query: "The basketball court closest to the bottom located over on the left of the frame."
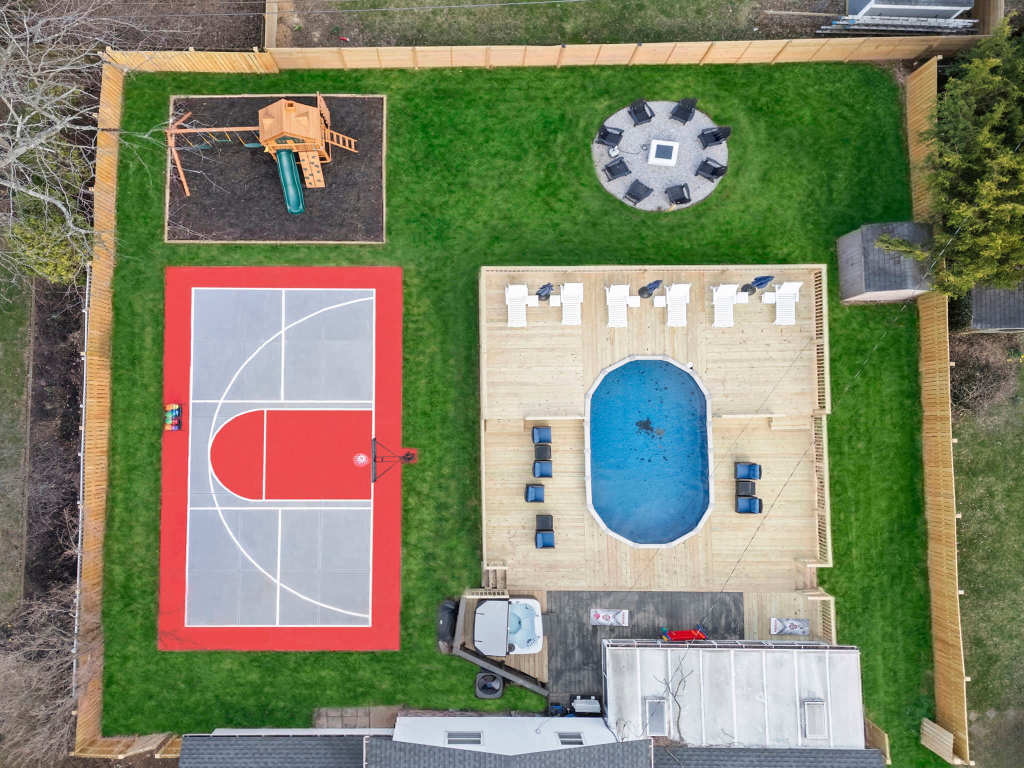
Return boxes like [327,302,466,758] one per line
[159,266,417,652]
